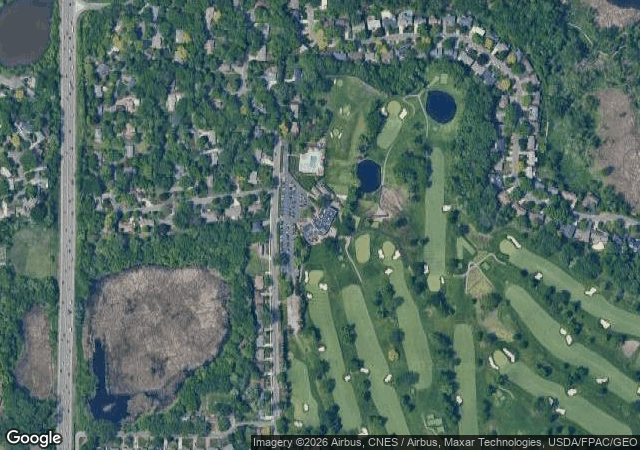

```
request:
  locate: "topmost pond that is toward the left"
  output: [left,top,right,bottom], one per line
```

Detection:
[0,0,54,66]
